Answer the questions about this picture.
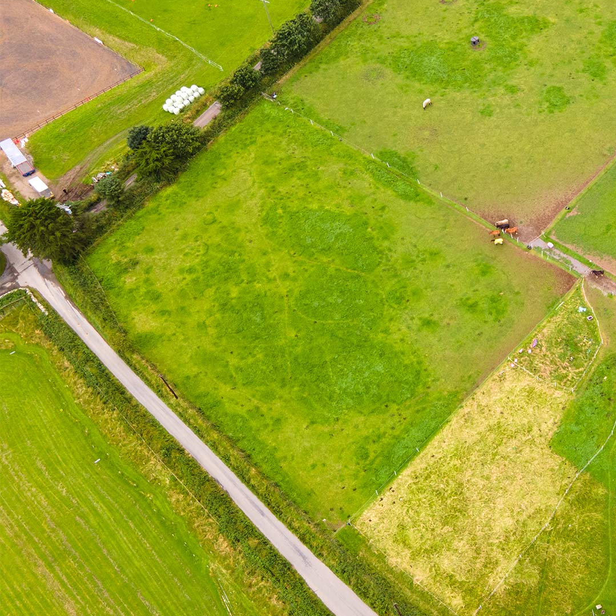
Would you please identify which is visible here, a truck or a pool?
truck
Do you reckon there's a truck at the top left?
Yes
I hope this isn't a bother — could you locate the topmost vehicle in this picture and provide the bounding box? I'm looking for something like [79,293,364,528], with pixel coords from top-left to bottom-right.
[0,139,37,180]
